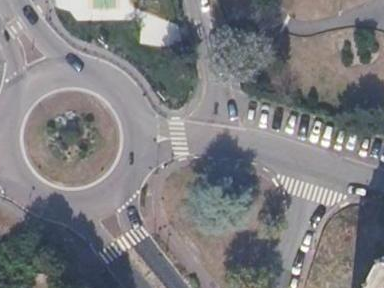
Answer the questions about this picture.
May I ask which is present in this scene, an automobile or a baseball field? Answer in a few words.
automobile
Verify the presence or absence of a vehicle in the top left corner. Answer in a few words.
Yes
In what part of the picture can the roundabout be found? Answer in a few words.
left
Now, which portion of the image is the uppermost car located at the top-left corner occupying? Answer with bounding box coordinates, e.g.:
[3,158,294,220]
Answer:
[23,5,39,26]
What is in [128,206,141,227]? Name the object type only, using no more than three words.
vehicle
